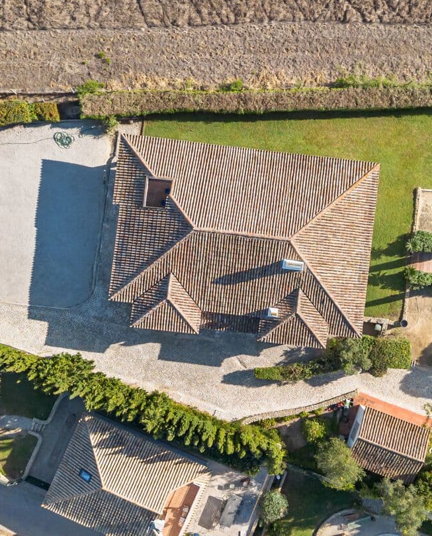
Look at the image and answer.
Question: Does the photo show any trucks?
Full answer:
No, there isn't any truck down there.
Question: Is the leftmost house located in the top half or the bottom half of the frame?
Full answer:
The leftmost house is in the bottom half of the image.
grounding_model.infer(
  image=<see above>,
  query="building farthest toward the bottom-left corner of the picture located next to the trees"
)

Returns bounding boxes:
[43,416,212,536]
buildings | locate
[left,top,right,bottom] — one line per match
[102,132,381,350]
[43,416,212,536]
[347,403,432,486]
